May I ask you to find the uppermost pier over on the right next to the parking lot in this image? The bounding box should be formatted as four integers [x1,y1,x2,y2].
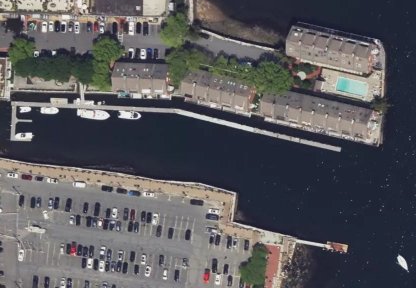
[175,109,342,152]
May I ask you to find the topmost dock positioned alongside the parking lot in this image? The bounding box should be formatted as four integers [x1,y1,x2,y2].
[11,101,174,114]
